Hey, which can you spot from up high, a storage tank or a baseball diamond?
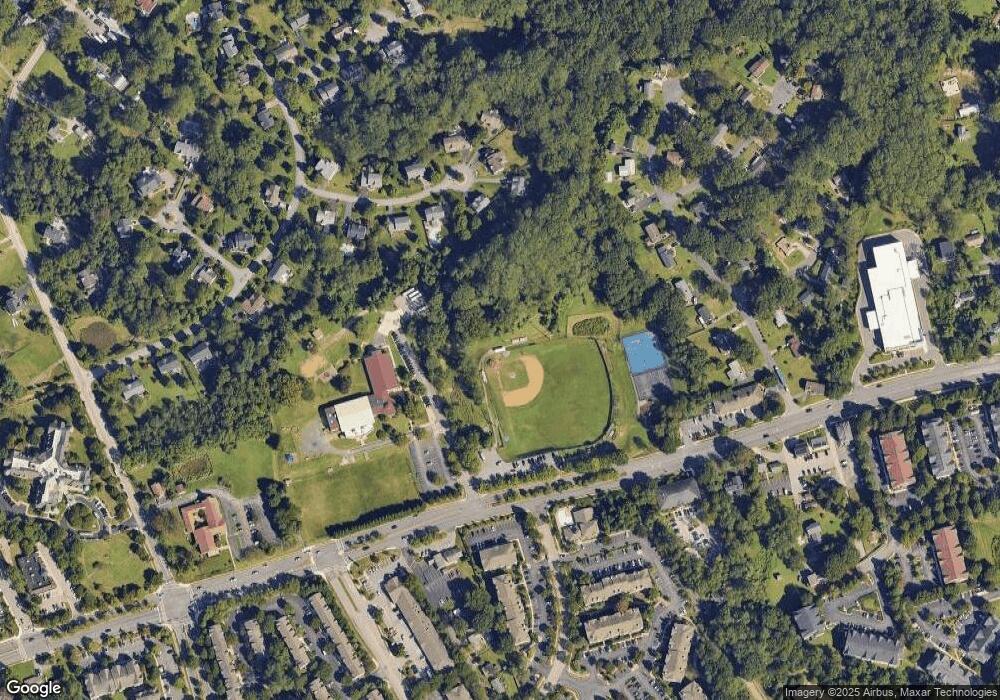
baseball diamond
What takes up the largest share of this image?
trees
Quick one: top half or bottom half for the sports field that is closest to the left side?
bottom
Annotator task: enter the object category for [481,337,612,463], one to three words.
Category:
baseball field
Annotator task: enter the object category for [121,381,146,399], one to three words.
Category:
house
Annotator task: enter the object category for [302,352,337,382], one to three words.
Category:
playground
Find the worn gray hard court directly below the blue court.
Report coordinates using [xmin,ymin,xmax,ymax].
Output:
[634,366,673,401]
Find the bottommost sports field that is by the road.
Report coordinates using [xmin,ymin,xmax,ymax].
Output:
[291,448,417,540]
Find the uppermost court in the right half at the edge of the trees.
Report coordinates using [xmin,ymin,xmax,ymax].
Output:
[622,330,667,375]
